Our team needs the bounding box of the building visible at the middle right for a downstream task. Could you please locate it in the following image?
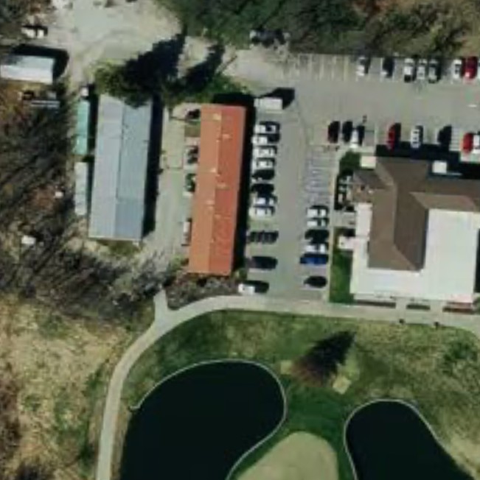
[337,155,480,305]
